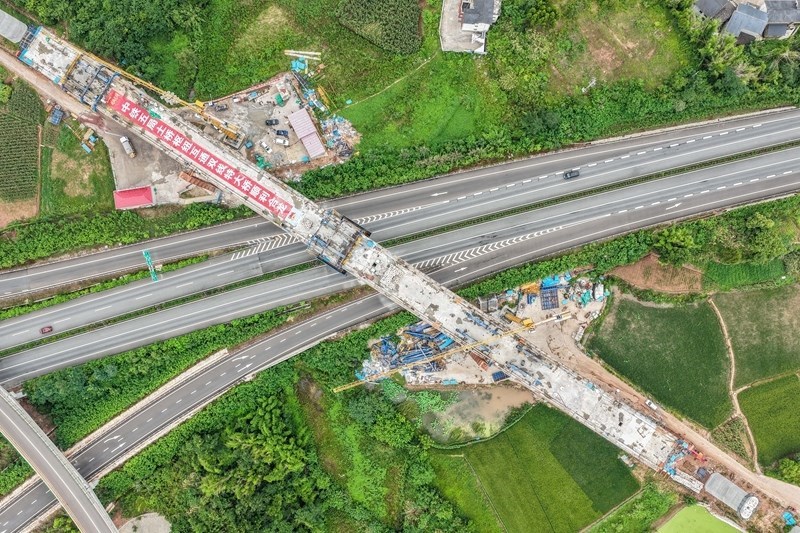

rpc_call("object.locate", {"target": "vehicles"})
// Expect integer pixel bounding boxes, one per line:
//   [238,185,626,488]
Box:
[275,129,289,135]
[564,169,580,178]
[213,103,227,111]
[38,327,52,334]
[645,399,660,411]
[259,140,272,153]
[273,138,288,145]
[264,118,279,126]
[116,133,134,159]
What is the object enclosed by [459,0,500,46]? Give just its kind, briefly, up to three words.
house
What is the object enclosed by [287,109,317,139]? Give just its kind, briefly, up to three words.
shed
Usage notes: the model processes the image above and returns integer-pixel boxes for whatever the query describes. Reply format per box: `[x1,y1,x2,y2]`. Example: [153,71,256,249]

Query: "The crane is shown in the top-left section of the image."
[82,49,247,148]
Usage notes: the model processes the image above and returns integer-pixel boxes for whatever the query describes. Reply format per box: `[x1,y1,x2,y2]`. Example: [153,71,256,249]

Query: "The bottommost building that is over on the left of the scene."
[114,186,157,209]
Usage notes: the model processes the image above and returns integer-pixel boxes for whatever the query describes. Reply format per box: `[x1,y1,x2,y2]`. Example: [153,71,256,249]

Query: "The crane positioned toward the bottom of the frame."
[333,303,576,393]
